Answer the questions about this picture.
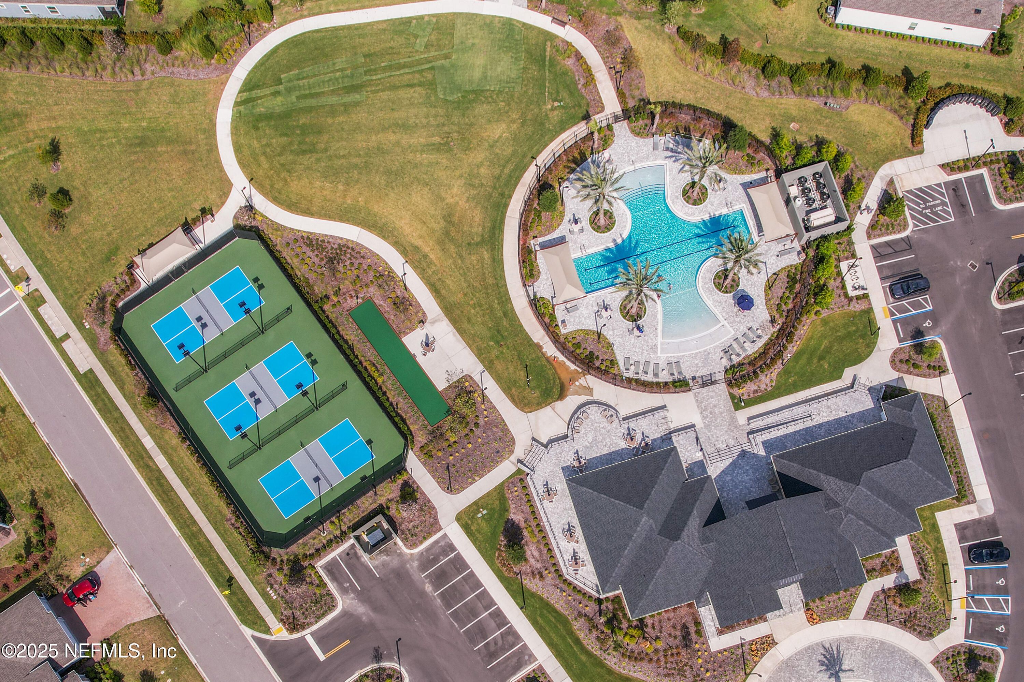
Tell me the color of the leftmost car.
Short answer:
red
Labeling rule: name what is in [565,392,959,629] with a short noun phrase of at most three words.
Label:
building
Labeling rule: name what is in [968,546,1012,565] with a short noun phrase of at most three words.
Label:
car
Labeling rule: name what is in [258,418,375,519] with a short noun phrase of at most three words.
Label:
sports court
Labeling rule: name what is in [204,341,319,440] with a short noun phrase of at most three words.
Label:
sports court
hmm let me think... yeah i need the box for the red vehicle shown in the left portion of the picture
[61,577,101,608]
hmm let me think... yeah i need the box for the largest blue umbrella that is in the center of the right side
[737,294,754,311]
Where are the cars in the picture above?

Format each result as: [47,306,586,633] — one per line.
[889,275,931,298]
[968,546,1012,565]
[61,577,101,608]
